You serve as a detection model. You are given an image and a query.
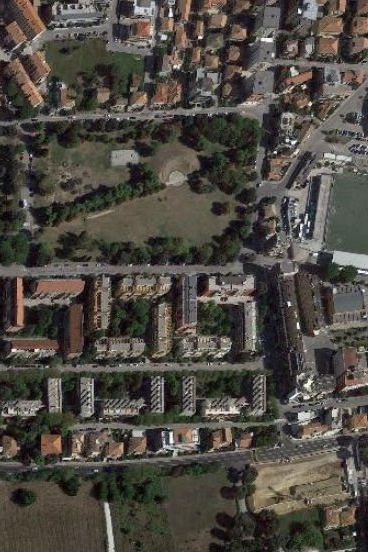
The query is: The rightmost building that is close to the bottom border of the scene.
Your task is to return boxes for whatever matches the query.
[340,504,355,529]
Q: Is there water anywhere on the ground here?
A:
No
